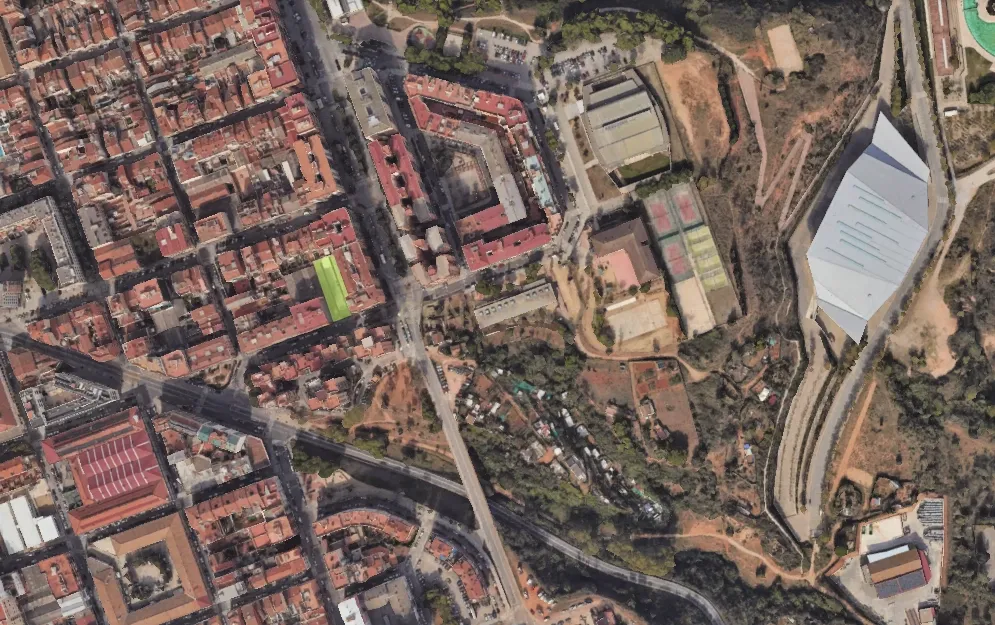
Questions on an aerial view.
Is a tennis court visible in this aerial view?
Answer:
Yes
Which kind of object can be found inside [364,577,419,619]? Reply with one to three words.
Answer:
building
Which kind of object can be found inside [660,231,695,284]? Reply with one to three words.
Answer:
tennis court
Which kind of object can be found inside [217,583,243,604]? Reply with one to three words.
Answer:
house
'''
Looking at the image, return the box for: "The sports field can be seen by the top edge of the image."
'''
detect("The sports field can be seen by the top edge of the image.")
[769,25,803,77]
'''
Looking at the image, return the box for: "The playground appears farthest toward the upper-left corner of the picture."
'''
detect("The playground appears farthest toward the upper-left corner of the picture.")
[409,24,432,51]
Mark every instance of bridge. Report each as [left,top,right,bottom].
[394,294,533,625]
